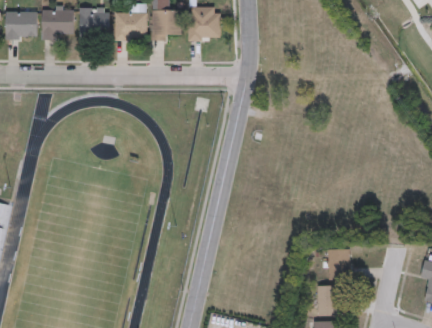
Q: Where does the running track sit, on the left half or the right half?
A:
left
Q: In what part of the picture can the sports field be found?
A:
bottom left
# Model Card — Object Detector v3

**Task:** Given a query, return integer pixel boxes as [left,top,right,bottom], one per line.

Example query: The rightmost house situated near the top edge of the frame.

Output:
[189,0,222,41]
